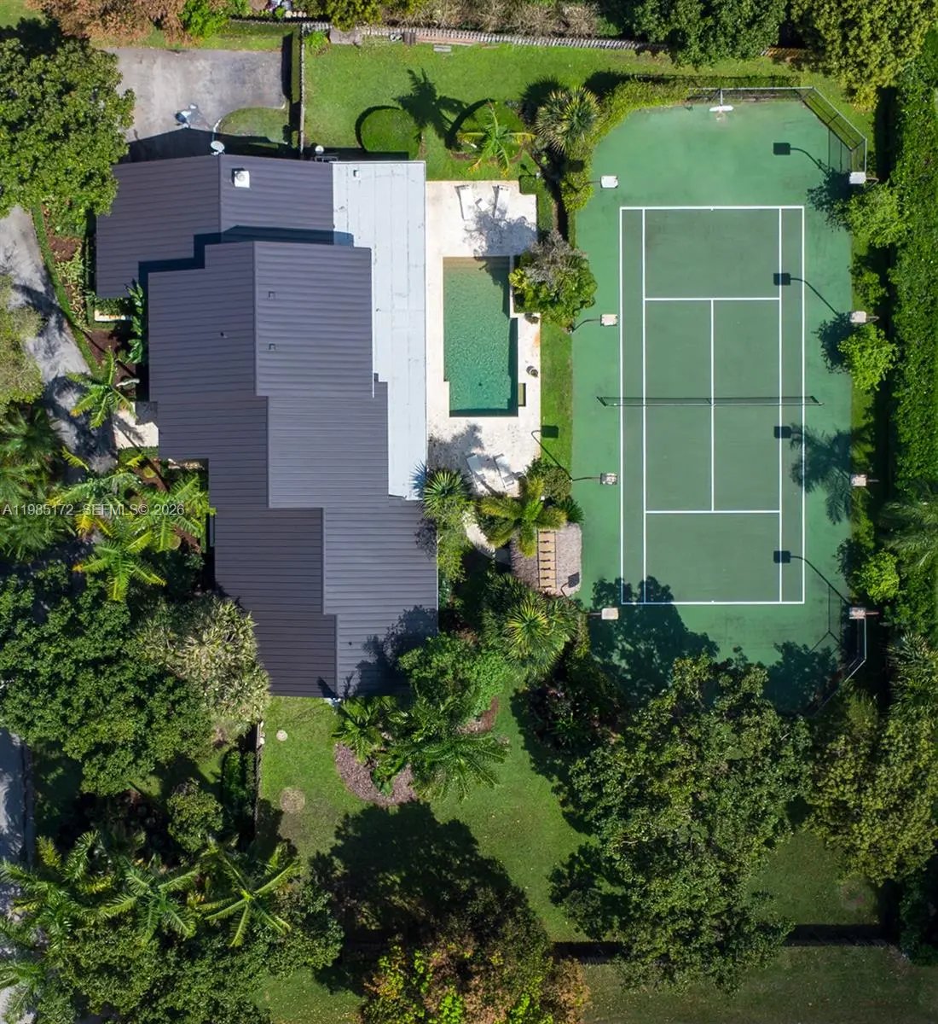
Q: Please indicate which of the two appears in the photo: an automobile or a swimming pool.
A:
swimming pool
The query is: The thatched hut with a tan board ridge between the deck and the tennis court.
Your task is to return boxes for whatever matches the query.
[507,521,588,601]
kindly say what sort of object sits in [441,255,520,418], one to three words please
swimming pool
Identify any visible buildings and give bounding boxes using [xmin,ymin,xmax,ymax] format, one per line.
[96,156,439,698]
[507,521,588,601]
